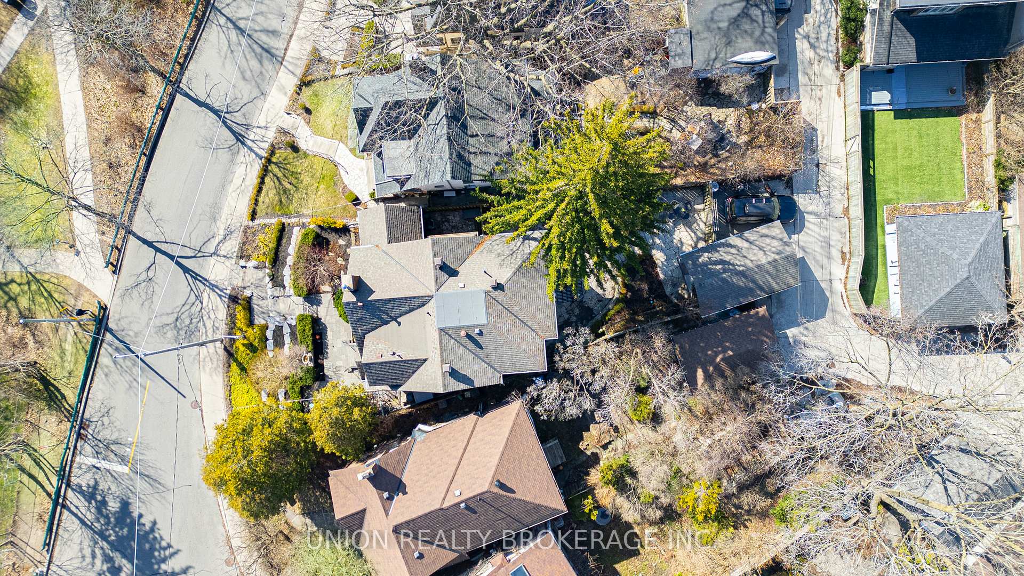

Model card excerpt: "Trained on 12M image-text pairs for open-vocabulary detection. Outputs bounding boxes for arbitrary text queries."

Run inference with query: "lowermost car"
[727,190,803,225]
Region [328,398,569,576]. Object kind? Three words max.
house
